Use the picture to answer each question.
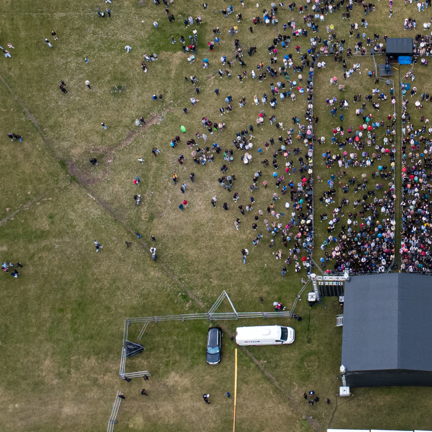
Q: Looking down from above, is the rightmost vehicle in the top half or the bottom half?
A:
bottom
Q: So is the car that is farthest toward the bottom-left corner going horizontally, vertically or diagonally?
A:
vertically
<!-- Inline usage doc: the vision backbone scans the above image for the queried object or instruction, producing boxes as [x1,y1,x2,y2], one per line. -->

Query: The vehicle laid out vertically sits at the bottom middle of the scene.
[203,326,224,367]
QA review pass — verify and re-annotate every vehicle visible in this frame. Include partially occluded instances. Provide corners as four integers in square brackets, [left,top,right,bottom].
[236,325,295,346]
[203,326,224,367]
